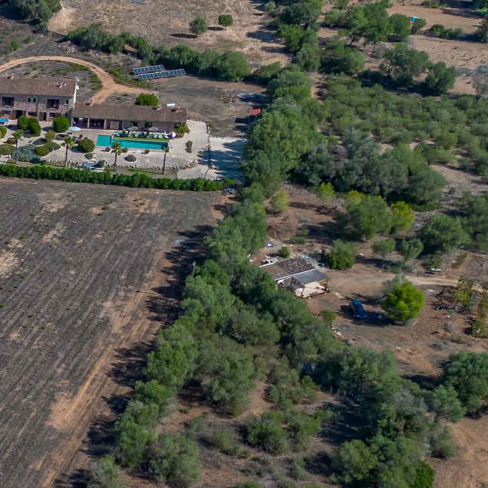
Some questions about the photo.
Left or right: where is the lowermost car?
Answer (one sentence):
The lowermost car sits on the right side.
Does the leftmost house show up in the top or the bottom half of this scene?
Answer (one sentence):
The top half of the photo is where the leftmost house is.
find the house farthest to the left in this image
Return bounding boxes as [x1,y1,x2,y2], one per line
[0,73,82,123]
